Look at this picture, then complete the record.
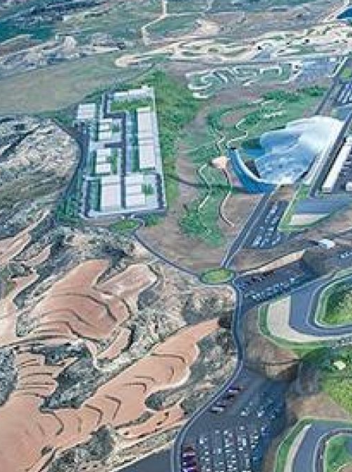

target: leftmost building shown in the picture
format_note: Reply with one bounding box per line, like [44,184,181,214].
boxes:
[73,100,98,119]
